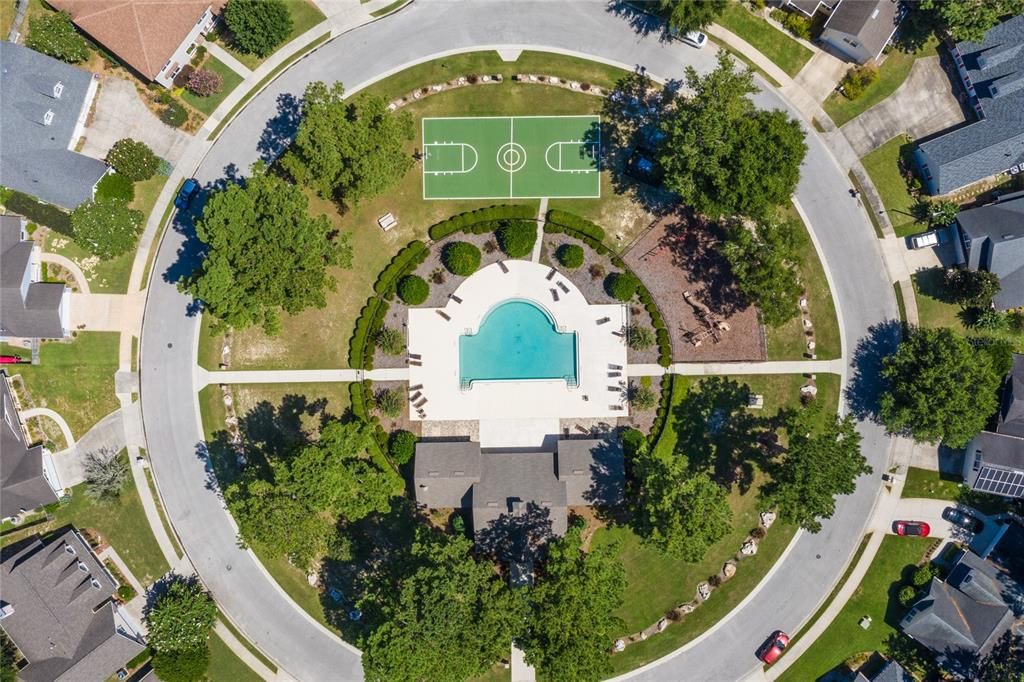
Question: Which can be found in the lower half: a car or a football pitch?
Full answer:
Looking in the lower half, you will find a car.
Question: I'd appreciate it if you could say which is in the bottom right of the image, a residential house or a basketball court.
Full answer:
The feature located in the bottom right of the image is a residential house.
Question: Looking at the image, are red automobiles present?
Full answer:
Yes, you can see a red automobile in this photo.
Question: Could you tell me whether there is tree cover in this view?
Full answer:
Yes, the picture does contain tree cover.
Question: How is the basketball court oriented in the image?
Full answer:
The basketball court runs from left to right in the image.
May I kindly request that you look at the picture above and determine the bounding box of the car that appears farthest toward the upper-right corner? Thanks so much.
[908,228,949,251]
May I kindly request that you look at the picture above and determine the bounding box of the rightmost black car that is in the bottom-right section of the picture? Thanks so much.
[941,505,984,534]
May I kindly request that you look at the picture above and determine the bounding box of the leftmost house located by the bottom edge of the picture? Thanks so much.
[0,530,148,682]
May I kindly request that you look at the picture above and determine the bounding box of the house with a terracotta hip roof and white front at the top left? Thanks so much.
[49,0,228,85]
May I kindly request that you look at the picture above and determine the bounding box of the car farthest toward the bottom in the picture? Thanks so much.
[759,631,791,665]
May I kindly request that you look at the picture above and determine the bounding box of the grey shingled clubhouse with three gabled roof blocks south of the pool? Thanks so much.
[413,440,626,552]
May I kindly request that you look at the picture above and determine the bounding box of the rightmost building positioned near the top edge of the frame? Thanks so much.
[912,15,1024,195]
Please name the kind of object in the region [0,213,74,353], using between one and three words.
house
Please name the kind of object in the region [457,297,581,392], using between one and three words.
swimming pool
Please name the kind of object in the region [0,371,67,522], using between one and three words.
house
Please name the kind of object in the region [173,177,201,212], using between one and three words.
car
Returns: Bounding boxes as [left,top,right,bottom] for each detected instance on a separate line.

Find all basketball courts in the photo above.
[422,115,601,200]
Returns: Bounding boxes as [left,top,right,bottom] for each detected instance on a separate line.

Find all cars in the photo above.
[941,505,984,534]
[173,177,201,212]
[908,228,949,251]
[895,519,931,538]
[759,631,791,665]
[672,29,711,51]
